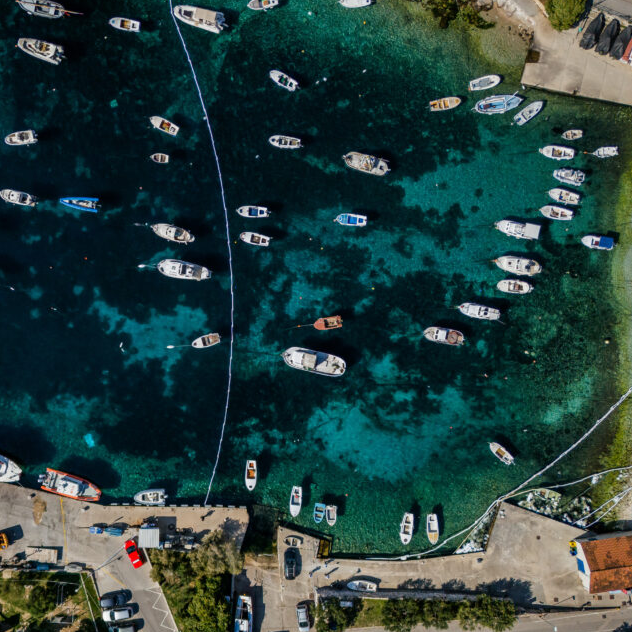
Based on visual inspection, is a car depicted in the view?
Yes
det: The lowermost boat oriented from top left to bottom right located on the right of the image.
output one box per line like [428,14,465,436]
[460,424,517,467]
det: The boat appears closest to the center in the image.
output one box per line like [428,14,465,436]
[304,315,346,331]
